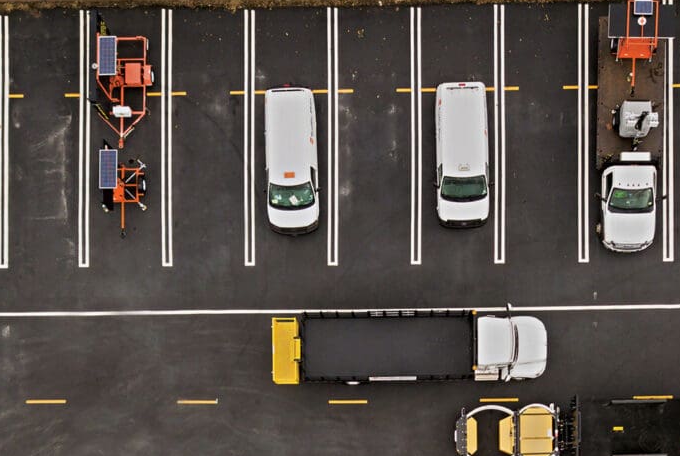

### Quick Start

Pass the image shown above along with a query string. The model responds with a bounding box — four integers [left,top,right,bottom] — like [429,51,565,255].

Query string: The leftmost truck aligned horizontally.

[273,303,547,384]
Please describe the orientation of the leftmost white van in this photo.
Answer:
up and down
